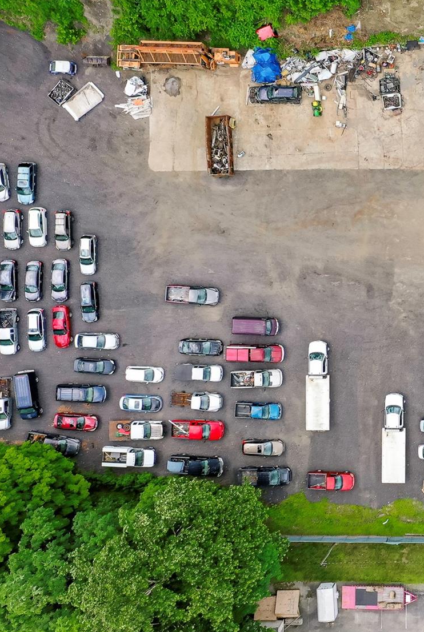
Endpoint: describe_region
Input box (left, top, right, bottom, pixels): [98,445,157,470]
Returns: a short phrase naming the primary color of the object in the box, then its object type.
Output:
white truck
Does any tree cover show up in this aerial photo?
Yes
